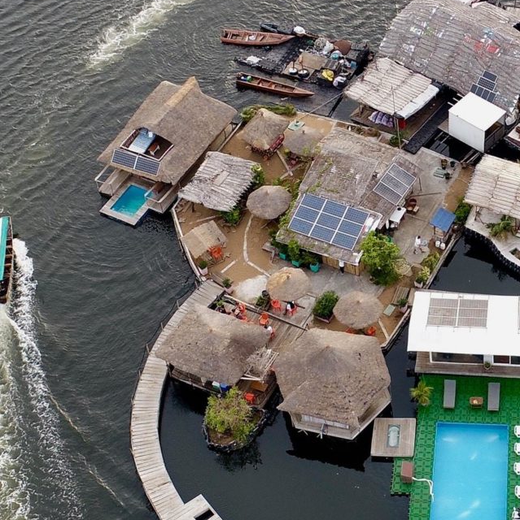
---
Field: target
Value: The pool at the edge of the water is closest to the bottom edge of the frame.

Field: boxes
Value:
[430,422,510,520]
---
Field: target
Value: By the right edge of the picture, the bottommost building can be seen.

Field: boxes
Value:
[407,292,520,379]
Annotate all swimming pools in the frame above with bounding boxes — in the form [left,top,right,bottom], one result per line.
[110,185,154,219]
[430,422,510,520]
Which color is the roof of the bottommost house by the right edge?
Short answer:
white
